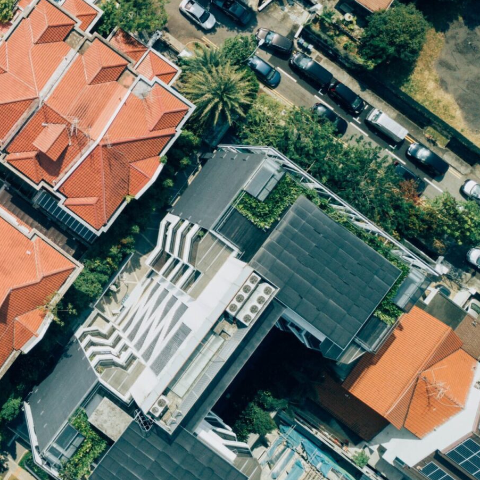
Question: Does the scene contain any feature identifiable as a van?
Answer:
Yes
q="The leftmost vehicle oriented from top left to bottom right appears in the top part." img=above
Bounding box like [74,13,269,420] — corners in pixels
[173,0,219,34]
